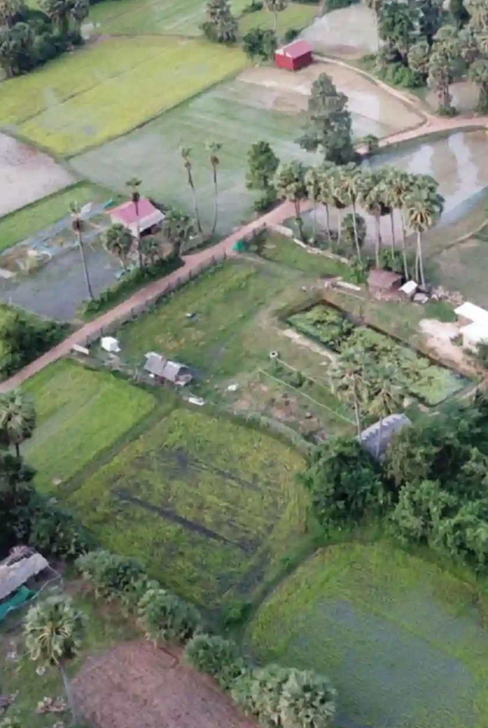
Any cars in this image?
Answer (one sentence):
No, there appears to be no car in this shot.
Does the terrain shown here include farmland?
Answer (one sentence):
Yes, the picture does contain farmland.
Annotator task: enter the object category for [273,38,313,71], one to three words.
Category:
building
